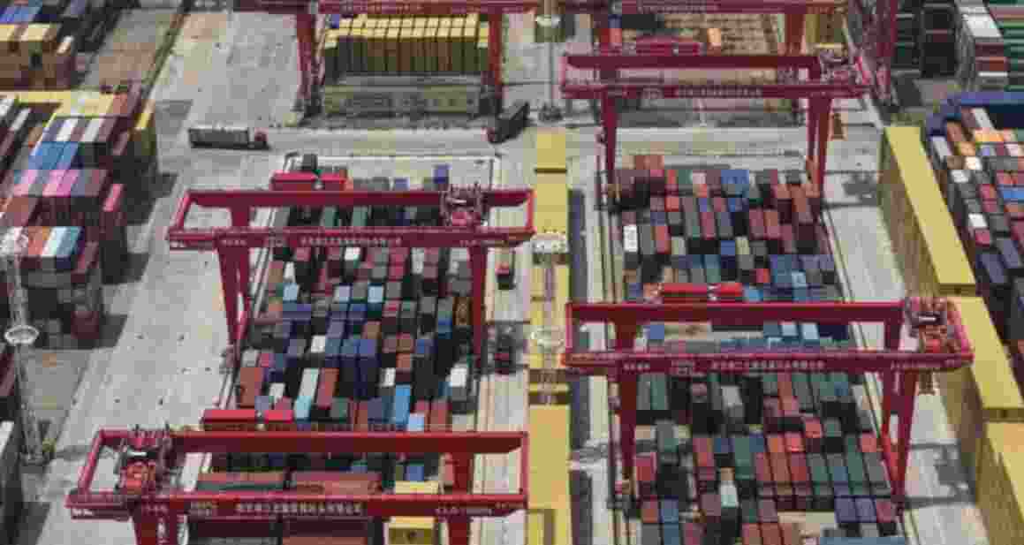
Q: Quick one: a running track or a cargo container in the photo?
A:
cargo container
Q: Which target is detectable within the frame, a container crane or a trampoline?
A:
container crane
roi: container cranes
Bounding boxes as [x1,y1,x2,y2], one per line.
[167,162,534,371]
[560,0,841,112]
[256,0,538,114]
[62,404,528,545]
[858,0,1024,104]
[560,35,875,214]
[562,277,974,513]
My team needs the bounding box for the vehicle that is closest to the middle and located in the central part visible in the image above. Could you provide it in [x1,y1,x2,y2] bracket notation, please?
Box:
[499,254,514,288]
